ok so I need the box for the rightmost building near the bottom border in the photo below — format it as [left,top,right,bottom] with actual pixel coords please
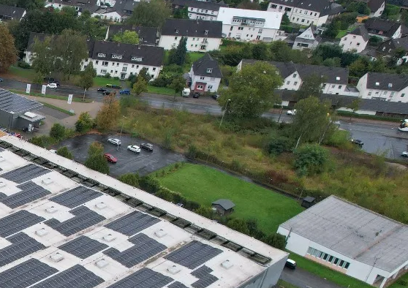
[273,195,408,288]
